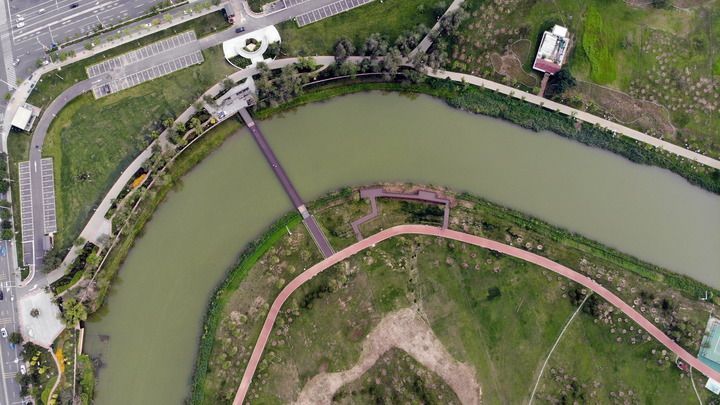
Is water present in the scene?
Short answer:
Yes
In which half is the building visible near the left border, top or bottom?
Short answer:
top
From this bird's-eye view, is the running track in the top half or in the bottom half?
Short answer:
bottom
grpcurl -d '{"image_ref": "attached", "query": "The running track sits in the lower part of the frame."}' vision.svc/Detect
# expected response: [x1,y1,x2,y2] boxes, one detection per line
[233,224,720,405]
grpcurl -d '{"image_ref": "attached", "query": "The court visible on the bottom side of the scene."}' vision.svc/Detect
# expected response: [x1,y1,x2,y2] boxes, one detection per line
[699,315,720,372]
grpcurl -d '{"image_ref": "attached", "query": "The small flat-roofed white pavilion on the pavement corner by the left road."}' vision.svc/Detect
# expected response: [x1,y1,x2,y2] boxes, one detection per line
[12,107,39,131]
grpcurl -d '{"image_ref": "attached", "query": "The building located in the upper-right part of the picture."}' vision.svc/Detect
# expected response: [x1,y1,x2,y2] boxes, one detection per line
[530,25,570,77]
